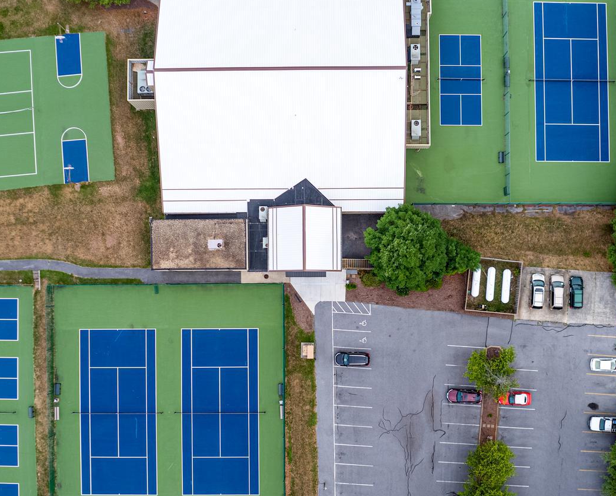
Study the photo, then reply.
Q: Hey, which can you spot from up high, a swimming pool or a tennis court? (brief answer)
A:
tennis court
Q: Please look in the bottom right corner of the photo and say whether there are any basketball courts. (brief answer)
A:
No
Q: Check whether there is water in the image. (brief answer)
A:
No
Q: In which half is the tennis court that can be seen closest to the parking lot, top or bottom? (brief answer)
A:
bottom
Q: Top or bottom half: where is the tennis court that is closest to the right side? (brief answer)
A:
top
